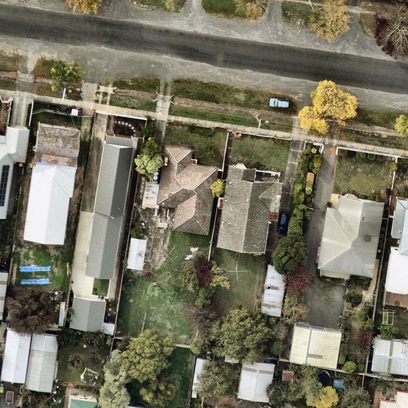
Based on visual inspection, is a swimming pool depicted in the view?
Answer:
No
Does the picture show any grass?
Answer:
Yes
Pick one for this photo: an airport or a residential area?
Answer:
residential area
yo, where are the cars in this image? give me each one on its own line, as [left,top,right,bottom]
[277,213,289,235]
[268,99,290,109]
